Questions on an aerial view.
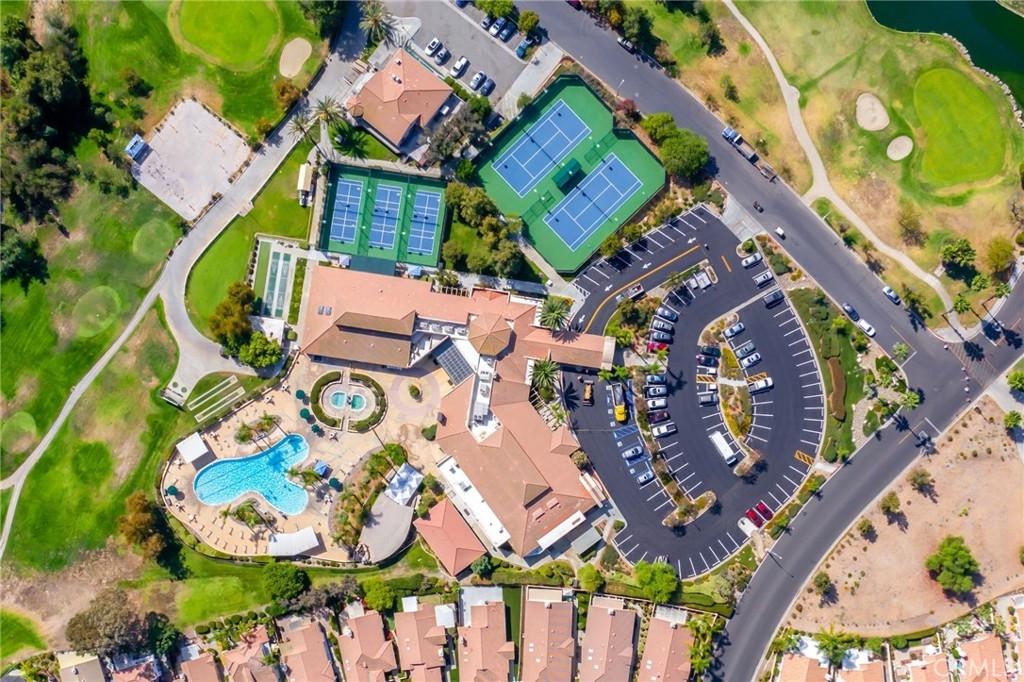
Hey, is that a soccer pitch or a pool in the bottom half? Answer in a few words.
pool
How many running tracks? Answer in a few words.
0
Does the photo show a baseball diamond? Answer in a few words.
No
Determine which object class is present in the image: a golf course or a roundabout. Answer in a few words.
golf course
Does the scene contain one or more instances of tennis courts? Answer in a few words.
Yes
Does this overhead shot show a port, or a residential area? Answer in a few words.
residential area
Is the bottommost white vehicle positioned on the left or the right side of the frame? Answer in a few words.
right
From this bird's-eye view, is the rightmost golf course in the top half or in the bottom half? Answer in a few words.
top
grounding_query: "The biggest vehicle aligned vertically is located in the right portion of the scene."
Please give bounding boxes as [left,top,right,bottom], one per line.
[612,382,625,421]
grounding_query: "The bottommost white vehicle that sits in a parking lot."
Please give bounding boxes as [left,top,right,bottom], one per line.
[737,516,758,537]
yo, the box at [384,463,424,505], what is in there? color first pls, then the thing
white tent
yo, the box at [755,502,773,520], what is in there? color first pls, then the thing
red car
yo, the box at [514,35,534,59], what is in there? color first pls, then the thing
blue vehicle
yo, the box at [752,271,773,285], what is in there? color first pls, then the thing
white car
